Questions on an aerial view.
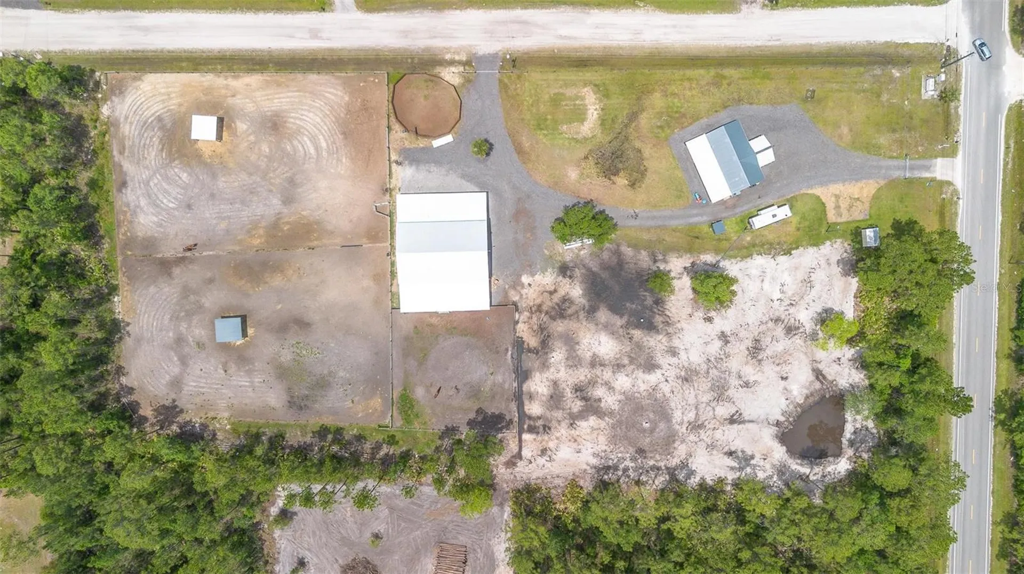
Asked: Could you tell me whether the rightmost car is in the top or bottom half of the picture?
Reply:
top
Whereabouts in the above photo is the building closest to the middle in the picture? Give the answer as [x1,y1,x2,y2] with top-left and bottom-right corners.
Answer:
[396,192,491,317]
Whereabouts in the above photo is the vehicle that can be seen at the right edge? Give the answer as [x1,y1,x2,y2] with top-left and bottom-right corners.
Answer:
[971,37,993,62]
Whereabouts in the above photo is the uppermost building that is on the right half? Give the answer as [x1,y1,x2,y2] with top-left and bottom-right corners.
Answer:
[683,119,764,203]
